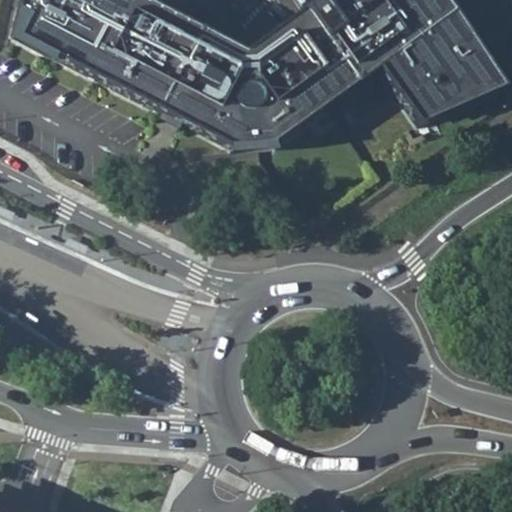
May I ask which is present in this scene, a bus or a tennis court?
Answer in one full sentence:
Looking from above, you can make out a bus.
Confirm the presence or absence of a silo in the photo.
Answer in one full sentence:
No, the scene contains no silo.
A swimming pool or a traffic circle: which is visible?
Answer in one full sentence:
Visible in the photo is a traffic circle.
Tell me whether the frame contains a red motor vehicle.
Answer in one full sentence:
Yes, the image includes a red motor vehicle.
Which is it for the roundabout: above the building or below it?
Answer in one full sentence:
Looking at the photo, you'll find the roundabout below the building.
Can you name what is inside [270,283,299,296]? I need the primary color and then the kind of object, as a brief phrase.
white vehicle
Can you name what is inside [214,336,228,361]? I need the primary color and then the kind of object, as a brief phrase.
white car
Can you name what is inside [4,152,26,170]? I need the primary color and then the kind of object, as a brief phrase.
red car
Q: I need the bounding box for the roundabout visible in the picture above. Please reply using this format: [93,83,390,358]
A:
[186,264,431,496]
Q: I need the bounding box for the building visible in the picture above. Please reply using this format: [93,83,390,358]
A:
[16,0,508,149]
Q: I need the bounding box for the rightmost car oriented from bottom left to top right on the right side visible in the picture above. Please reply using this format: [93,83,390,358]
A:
[435,226,457,244]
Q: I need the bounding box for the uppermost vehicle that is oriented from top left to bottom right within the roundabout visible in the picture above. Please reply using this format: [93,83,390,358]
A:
[348,282,370,300]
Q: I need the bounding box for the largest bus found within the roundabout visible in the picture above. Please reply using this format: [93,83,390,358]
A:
[240,432,359,472]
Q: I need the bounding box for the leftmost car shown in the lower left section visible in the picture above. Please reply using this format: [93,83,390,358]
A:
[7,390,30,405]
